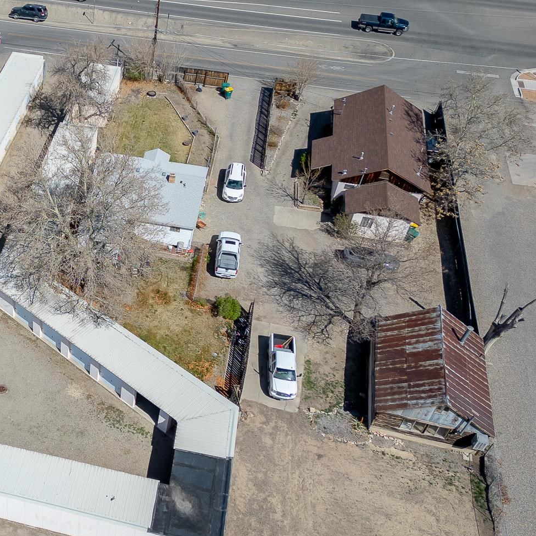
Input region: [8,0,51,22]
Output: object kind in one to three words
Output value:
car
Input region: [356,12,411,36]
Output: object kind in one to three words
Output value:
truck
